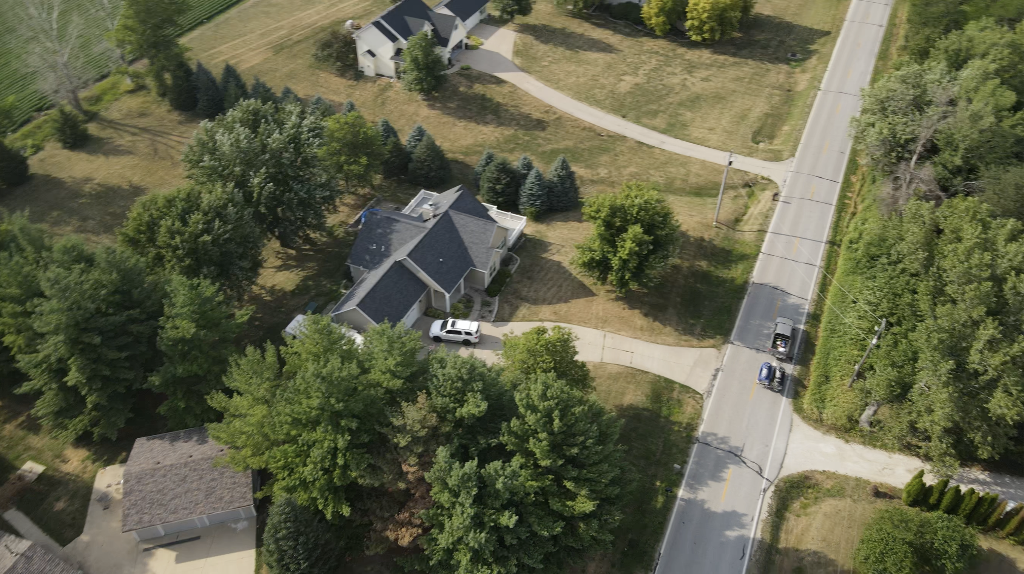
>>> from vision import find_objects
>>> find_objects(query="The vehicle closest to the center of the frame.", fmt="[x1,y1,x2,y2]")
[428,320,478,346]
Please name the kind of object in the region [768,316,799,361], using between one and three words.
truck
